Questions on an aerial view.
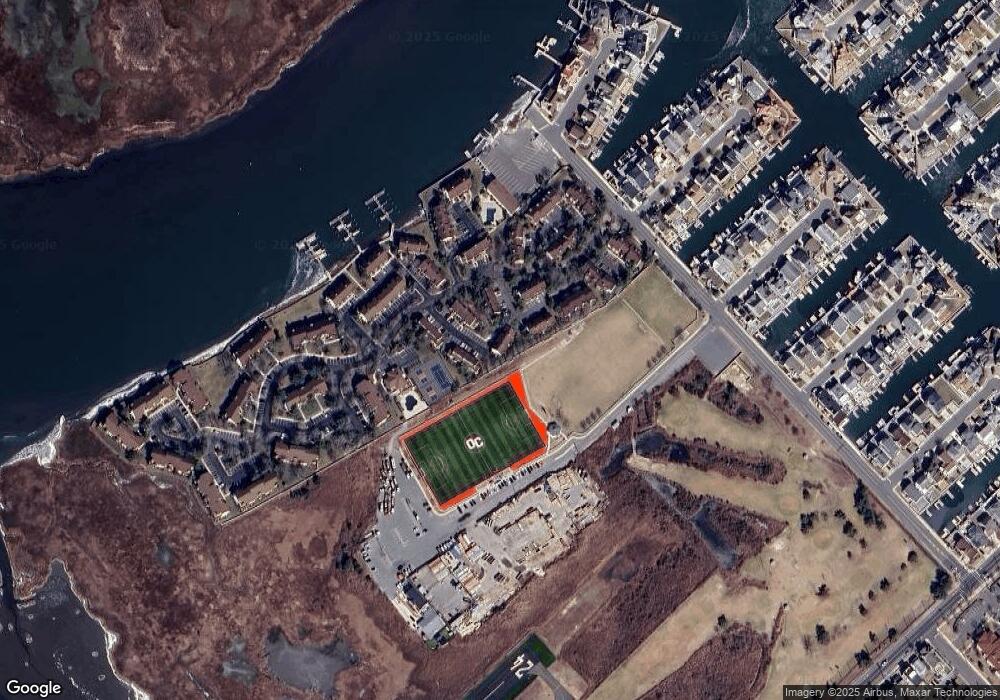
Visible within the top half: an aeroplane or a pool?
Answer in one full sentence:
The feature located within the top half is a pool.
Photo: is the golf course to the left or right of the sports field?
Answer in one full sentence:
To the right of the sports field is where the golf course appears.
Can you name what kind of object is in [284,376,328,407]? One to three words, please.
building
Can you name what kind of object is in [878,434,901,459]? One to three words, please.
house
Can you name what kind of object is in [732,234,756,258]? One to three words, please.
house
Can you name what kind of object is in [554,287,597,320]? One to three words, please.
building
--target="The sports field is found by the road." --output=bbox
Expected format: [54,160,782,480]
[400,372,549,513]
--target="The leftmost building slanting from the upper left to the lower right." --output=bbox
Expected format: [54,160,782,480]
[104,410,147,452]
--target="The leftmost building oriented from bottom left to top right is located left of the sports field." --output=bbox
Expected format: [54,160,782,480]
[131,381,177,419]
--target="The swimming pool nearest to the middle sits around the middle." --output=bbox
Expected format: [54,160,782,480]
[395,388,430,420]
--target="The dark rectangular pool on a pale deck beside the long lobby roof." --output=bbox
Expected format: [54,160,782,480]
[480,197,507,228]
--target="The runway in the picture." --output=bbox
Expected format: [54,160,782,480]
[458,630,557,700]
